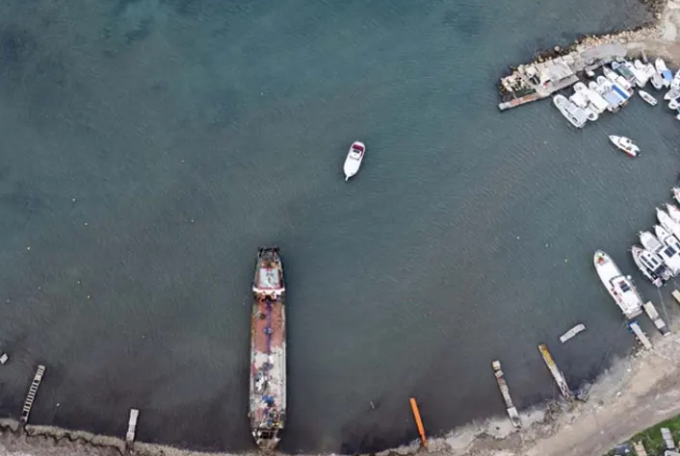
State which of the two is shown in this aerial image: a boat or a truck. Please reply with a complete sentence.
The image shows a boat.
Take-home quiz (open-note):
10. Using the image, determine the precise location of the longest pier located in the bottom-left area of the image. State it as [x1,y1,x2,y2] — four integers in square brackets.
[20,366,47,422]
